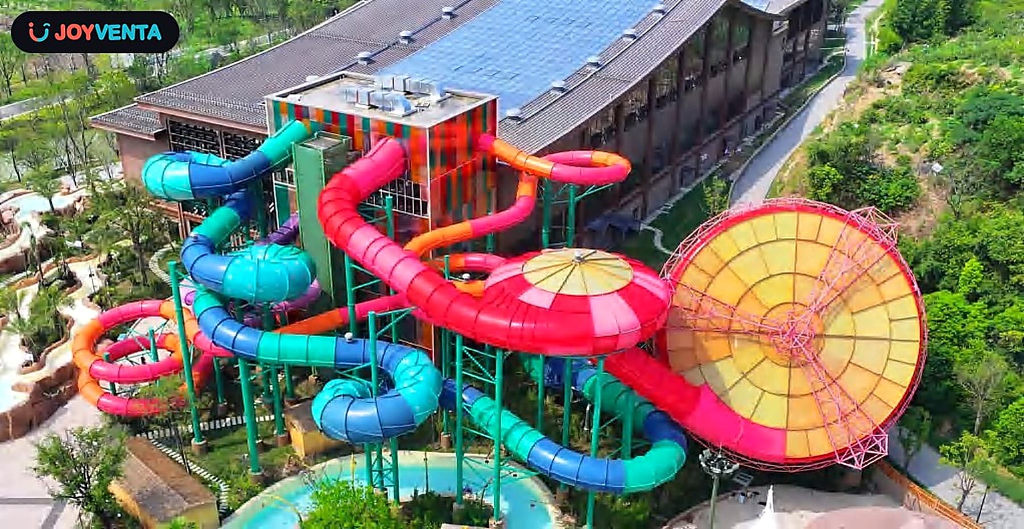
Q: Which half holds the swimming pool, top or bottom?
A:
bottom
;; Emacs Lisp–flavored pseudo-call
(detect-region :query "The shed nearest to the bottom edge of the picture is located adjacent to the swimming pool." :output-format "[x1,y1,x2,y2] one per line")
[102,442,220,529]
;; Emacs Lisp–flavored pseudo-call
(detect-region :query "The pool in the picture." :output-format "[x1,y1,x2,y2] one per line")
[247,461,545,529]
